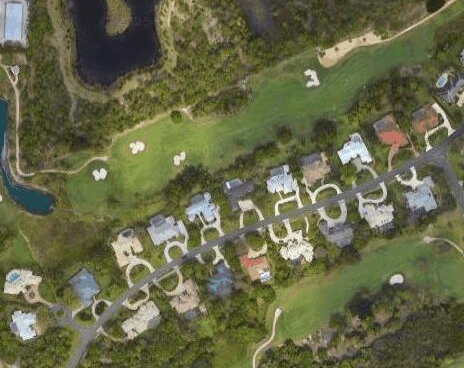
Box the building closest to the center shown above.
[224,178,255,212]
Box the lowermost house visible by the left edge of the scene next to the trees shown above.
[10,307,35,340]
